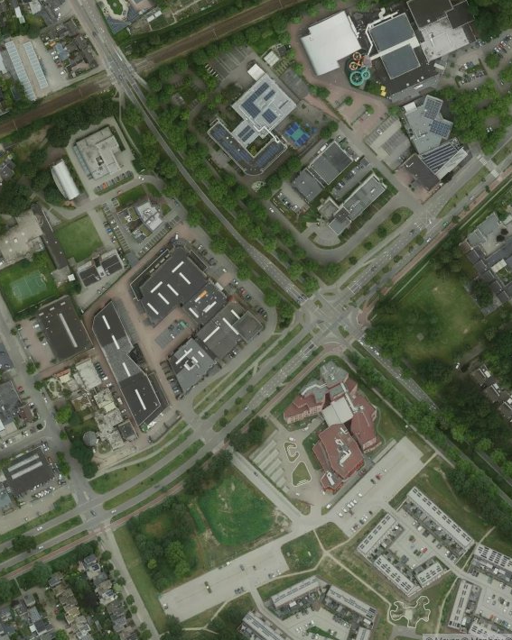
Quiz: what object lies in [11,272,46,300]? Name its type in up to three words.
sports court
